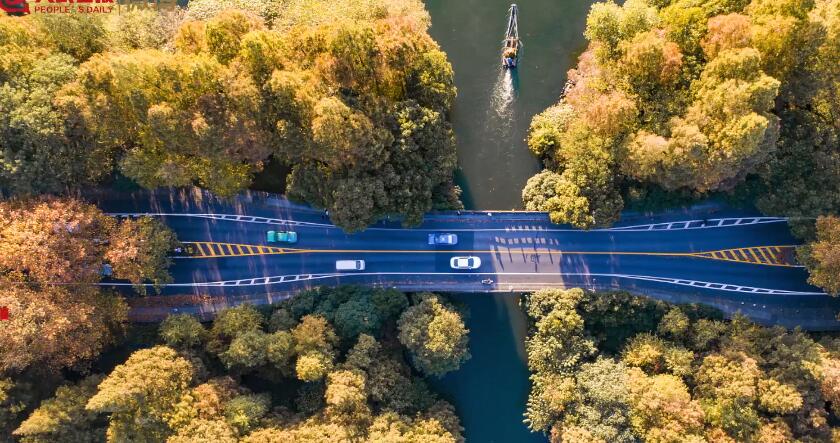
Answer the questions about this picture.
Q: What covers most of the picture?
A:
trees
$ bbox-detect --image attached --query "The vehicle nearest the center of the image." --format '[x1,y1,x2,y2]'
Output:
[427,231,457,245]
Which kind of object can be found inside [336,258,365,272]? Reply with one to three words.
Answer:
vehicle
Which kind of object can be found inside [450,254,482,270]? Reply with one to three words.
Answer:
car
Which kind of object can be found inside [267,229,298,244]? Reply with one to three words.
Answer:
car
